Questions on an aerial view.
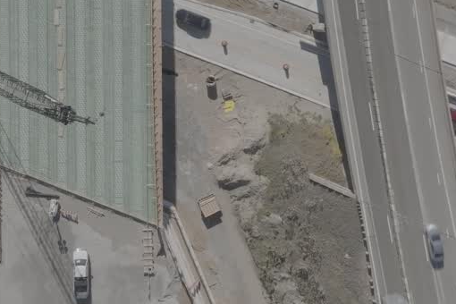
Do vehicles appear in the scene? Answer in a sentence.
Yes, there's a vehicle down there.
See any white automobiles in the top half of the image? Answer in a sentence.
No, looking in the top half of the image, there is no white automobile.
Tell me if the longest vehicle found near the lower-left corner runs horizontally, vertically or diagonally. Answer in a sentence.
The longest vehicle found near the lower-left corner has been laid out vertically relative to the frame.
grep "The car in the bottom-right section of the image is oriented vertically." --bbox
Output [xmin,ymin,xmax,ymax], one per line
[424,224,445,265]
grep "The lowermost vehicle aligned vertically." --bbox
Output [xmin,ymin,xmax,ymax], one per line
[72,246,92,298]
